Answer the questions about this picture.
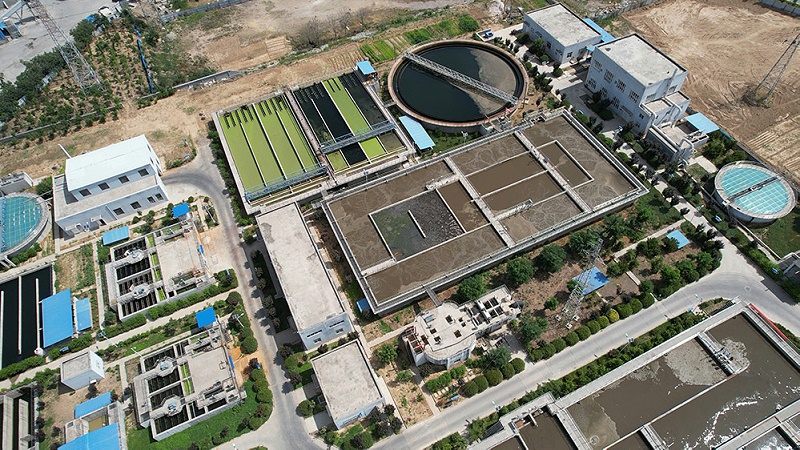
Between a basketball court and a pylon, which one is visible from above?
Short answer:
pylon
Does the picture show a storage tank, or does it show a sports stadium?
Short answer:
storage tank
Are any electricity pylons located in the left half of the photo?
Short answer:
Yes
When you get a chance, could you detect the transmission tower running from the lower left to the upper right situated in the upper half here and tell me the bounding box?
[754,20,800,98]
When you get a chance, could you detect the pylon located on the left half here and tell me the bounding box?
[23,0,105,98]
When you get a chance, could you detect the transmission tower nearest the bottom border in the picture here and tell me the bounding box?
[555,238,608,327]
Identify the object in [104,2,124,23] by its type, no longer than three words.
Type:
vehicle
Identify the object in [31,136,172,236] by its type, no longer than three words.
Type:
building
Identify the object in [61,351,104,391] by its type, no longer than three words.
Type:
shed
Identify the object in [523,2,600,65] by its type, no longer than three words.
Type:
building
